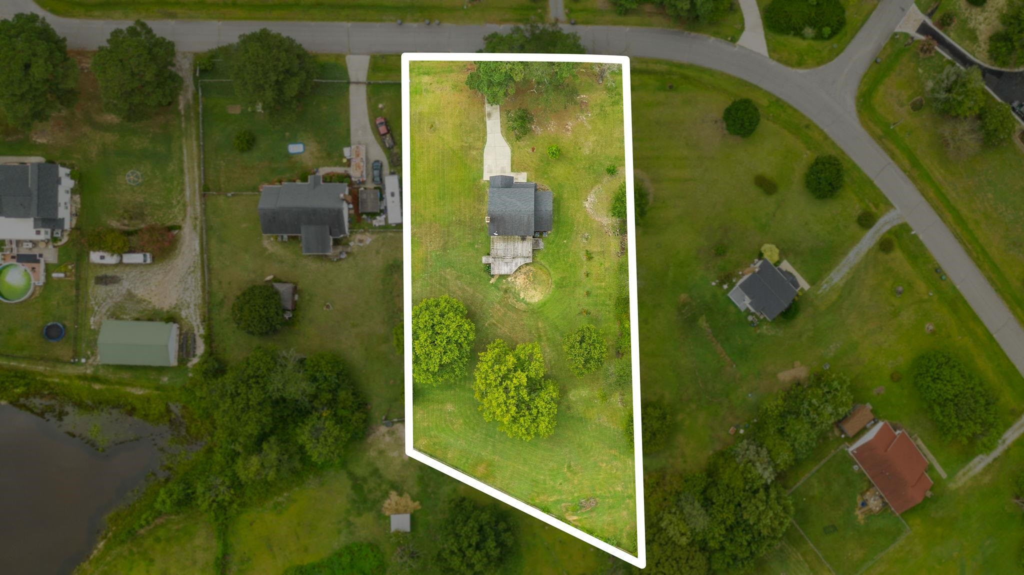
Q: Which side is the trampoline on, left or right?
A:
left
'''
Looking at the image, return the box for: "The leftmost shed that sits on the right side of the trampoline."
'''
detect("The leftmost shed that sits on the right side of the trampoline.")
[96,321,178,367]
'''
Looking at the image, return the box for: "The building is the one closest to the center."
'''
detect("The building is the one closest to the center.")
[486,174,553,236]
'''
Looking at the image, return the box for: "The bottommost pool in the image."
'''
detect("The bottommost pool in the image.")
[0,261,38,303]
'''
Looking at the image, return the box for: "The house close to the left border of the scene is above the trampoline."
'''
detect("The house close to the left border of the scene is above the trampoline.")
[0,161,74,239]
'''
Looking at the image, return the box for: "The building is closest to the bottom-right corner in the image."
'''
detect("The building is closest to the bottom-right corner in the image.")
[847,424,937,514]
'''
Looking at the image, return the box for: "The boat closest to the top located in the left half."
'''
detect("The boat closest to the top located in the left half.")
[351,145,366,181]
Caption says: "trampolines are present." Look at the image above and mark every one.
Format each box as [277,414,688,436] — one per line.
[40,321,62,342]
